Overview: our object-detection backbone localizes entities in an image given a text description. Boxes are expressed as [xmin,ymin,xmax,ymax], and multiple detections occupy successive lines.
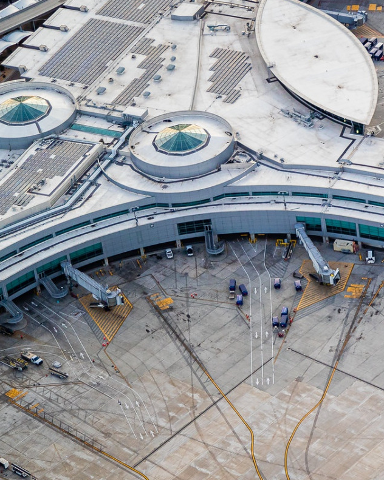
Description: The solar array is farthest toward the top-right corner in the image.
[206,47,254,104]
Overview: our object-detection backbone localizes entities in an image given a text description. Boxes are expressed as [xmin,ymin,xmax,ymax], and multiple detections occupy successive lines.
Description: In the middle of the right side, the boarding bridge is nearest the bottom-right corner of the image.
[295,227,342,287]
